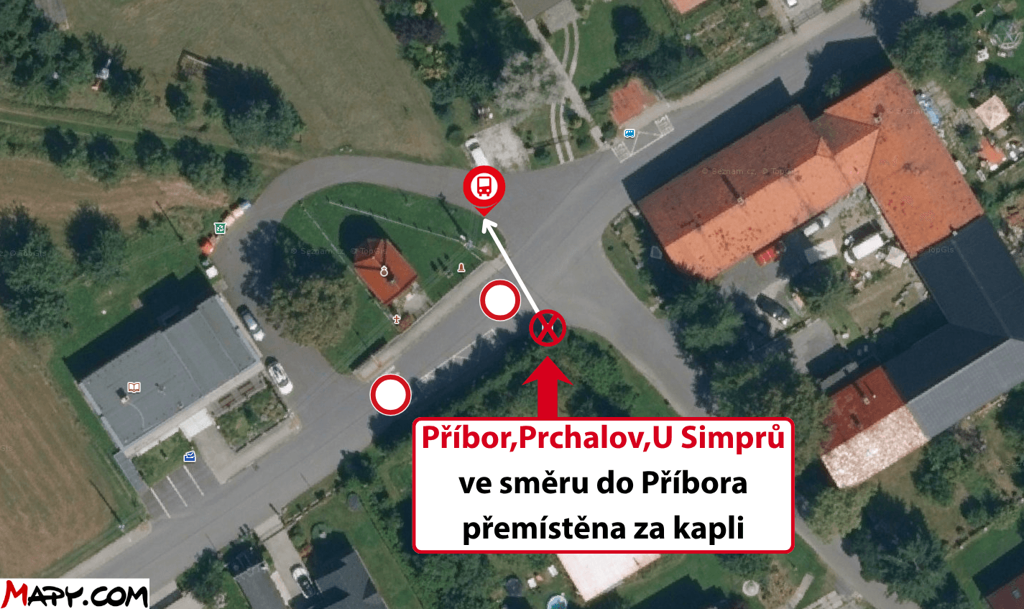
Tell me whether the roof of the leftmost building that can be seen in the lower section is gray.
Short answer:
Yes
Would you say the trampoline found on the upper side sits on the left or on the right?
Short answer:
right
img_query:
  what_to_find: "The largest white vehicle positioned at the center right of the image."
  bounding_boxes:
[842,229,889,264]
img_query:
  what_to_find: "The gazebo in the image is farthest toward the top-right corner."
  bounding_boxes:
[975,95,1011,130]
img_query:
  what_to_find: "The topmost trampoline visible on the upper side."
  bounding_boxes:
[996,19,1024,48]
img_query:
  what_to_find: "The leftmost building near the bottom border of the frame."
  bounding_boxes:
[234,561,286,609]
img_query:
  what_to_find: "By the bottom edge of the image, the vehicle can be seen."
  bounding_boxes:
[289,561,320,601]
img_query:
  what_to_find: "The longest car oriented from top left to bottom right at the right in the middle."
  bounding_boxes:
[754,293,794,326]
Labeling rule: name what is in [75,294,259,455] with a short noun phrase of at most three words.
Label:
building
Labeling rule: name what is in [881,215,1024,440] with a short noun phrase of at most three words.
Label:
barn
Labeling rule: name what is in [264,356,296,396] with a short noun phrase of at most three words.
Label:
car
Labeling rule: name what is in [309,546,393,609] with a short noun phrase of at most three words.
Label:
house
